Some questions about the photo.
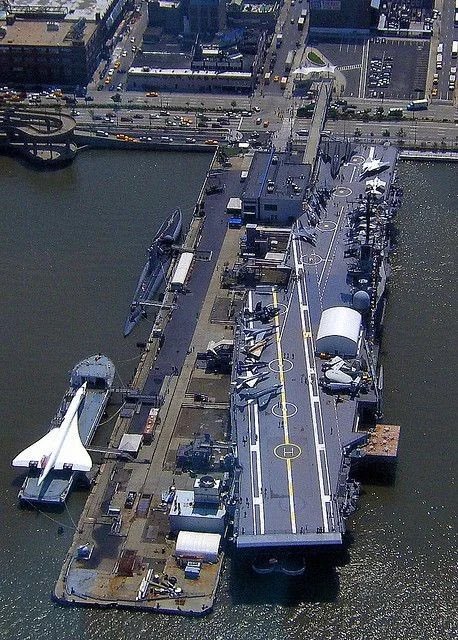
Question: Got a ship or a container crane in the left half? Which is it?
ship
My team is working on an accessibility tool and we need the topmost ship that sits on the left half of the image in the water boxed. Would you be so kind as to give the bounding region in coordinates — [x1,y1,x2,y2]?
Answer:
[122,208,177,336]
